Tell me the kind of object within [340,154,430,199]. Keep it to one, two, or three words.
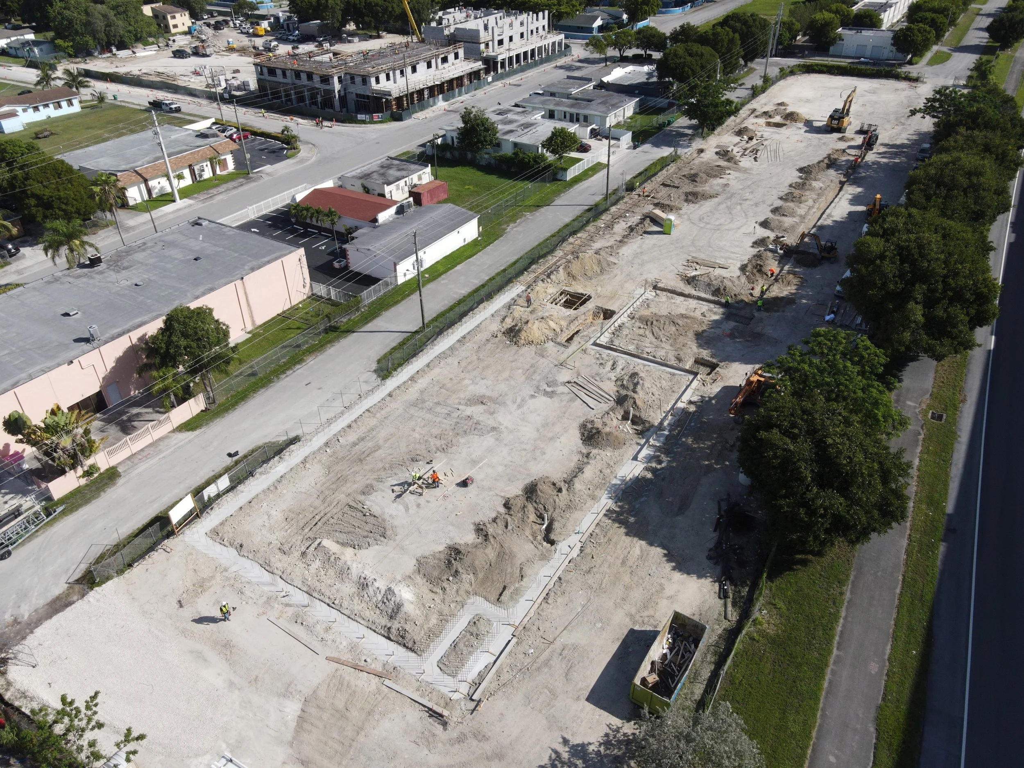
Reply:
house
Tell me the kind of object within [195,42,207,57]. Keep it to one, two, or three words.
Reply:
vehicle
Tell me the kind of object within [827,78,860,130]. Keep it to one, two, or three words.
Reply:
work vehicle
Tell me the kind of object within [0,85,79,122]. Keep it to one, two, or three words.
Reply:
house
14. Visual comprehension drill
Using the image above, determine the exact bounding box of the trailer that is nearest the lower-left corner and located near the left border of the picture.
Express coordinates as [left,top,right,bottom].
[0,492,66,561]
